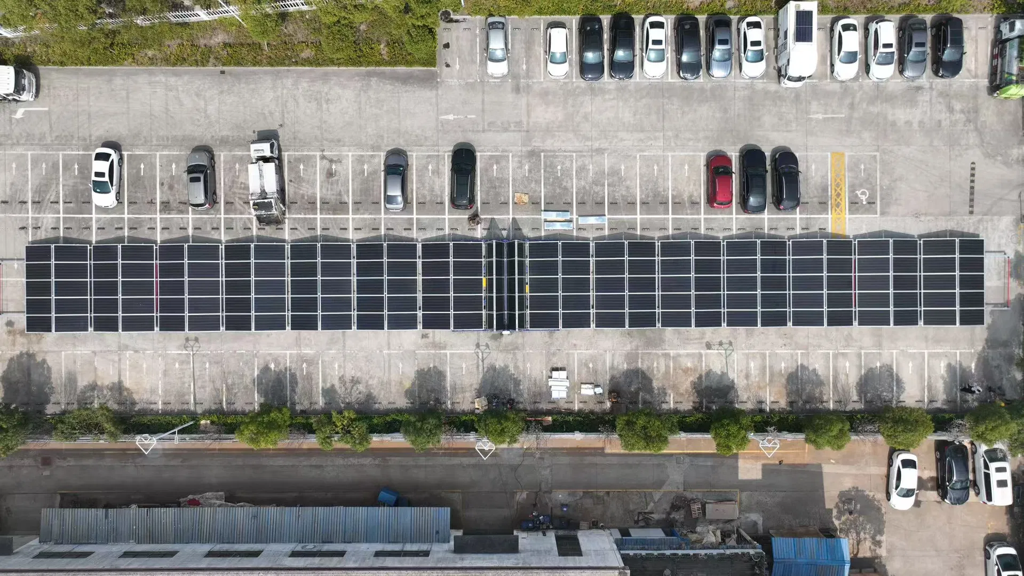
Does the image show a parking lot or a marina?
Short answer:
parking lot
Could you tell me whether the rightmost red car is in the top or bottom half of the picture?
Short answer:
top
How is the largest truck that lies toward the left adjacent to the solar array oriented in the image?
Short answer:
up and down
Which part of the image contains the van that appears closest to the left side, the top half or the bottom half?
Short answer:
top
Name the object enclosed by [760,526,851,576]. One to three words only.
shed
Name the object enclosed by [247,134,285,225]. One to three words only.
truck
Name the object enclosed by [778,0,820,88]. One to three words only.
vehicle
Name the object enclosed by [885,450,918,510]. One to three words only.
car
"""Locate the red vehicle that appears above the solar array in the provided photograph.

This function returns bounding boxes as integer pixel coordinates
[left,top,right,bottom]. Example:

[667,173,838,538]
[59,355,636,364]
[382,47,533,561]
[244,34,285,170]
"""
[706,155,736,210]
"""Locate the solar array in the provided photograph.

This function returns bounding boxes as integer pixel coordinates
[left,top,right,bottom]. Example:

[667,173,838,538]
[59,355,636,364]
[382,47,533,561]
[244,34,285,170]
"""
[0,239,1011,336]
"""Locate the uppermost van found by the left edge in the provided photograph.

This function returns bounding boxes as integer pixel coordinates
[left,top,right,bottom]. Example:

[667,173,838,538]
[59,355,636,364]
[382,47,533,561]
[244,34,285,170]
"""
[0,65,43,100]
